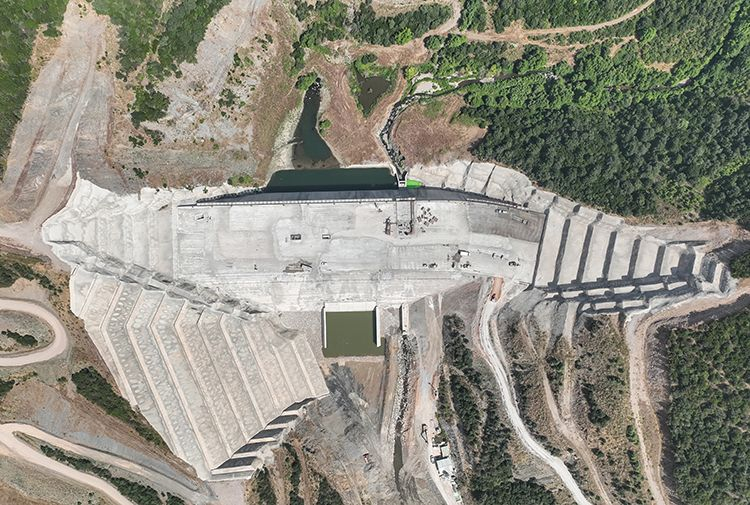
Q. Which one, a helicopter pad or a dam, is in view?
dam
